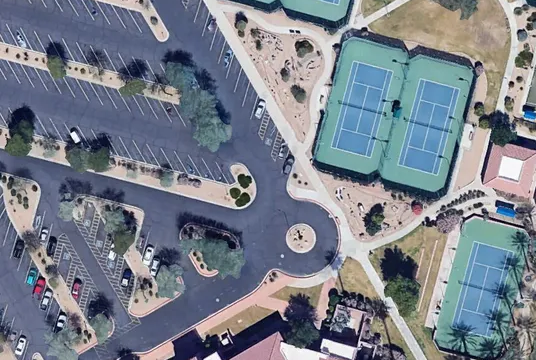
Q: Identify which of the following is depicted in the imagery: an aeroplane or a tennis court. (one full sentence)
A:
The image shows a tennis court.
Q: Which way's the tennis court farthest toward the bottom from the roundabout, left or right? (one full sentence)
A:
Relative to the roundabout, the tennis court farthest toward the bottom lies to the right.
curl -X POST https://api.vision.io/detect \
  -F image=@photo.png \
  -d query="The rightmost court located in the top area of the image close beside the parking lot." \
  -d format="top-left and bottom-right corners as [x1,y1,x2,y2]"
[380,53,478,198]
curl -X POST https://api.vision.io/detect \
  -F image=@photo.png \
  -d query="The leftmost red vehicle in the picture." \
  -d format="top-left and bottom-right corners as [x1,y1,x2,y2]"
[32,275,46,297]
